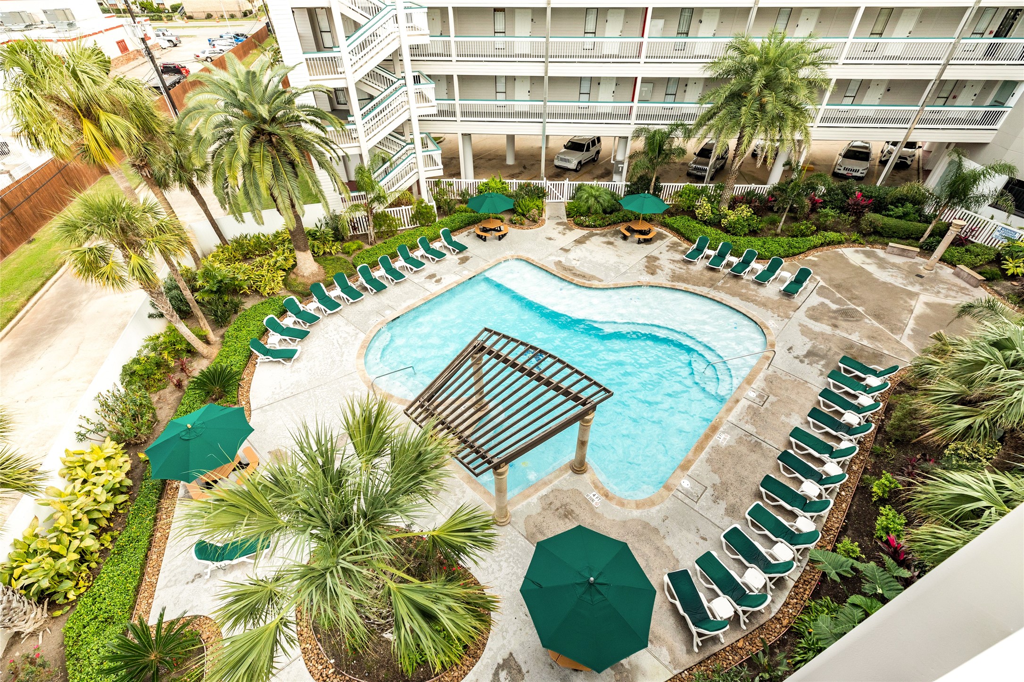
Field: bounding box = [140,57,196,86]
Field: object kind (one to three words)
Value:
truck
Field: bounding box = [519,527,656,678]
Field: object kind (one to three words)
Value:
umbrella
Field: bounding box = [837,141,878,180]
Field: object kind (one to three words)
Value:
car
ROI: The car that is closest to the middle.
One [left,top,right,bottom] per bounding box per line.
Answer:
[556,135,600,170]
